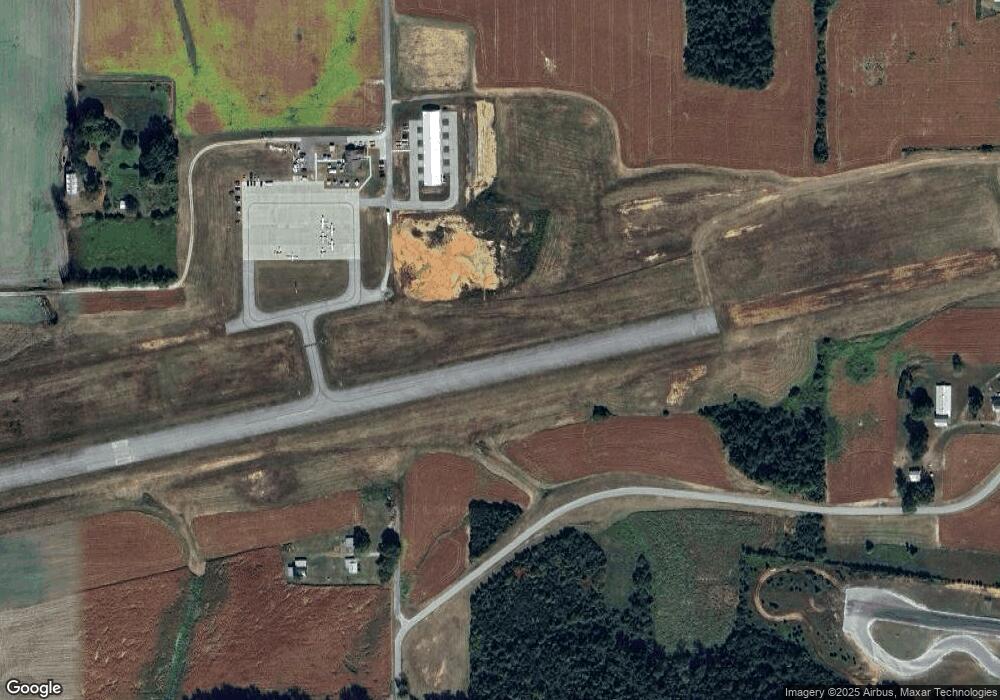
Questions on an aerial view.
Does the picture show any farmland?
Yes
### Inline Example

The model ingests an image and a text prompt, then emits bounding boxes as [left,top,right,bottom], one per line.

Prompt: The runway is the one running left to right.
[0,309,719,491]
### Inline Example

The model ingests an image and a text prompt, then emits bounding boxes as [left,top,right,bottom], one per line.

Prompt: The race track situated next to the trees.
[843,587,1000,679]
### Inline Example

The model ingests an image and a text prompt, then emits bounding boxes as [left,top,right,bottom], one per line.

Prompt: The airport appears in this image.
[0,112,719,491]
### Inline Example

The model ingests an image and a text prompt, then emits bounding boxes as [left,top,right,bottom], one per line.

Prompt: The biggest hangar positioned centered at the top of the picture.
[423,111,443,189]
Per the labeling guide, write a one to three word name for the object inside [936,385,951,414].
barn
